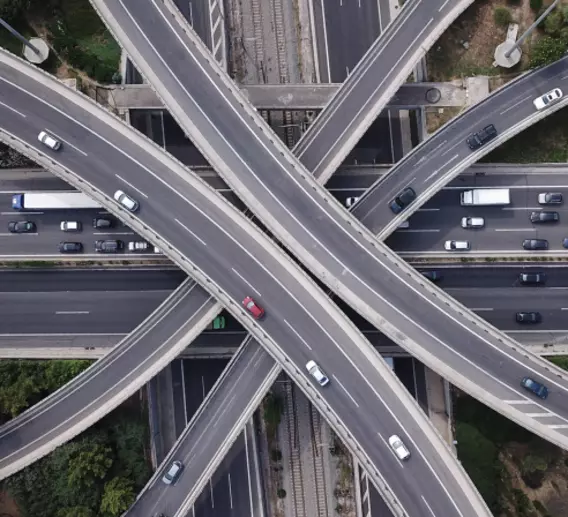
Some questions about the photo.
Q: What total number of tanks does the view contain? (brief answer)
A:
0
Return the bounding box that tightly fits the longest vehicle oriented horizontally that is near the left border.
[12,192,103,211]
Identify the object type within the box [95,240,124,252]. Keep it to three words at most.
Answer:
vehicle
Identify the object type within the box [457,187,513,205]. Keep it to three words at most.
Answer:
vehicle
